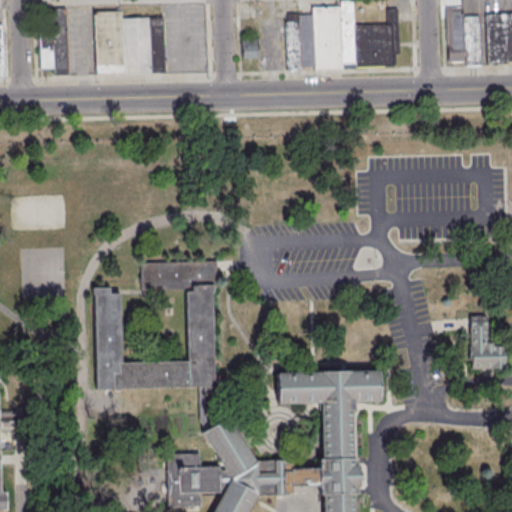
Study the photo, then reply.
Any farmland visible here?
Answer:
No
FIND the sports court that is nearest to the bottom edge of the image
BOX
[21,248,64,299]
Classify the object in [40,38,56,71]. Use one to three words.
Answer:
building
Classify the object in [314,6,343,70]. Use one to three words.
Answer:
building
